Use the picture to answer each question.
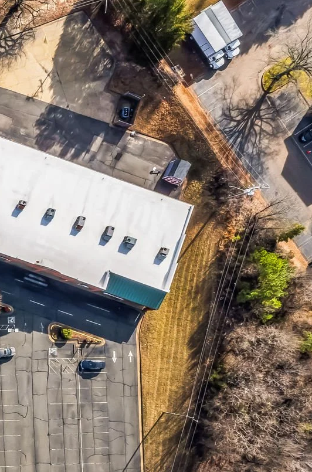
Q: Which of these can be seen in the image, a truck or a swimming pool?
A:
truck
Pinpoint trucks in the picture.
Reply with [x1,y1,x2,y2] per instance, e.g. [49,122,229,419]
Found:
[184,12,226,73]
[199,0,243,61]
